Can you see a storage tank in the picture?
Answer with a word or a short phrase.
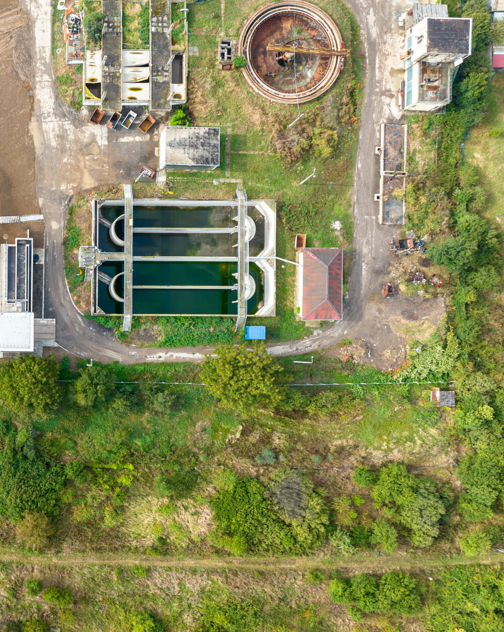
Yes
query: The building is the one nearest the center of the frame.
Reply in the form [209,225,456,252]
[297,248,343,327]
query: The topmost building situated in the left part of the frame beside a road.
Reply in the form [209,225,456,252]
[155,126,220,170]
